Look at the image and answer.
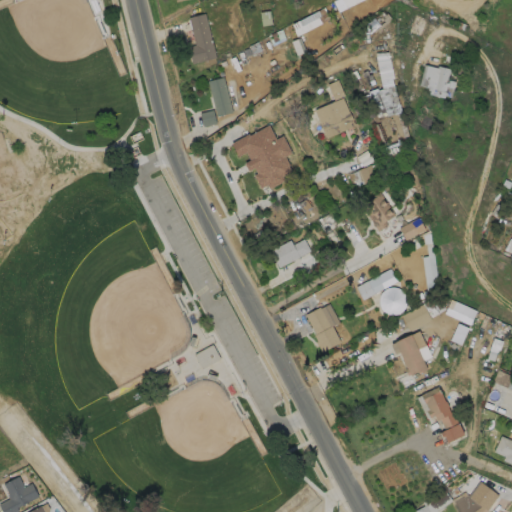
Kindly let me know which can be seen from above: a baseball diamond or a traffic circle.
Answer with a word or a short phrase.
baseball diamond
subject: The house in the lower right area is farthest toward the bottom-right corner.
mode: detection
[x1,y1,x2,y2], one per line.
[454,482,500,512]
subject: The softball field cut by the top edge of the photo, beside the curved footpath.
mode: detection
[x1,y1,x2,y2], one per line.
[0,0,129,124]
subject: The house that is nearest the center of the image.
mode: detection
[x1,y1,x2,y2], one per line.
[276,240,312,267]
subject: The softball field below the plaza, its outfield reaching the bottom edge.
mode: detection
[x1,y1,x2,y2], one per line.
[94,379,281,512]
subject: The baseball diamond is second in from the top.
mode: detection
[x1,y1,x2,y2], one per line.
[56,221,193,410]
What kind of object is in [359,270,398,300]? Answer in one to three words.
barn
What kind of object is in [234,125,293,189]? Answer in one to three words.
house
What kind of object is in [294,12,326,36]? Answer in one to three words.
building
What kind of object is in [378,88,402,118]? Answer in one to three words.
shed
